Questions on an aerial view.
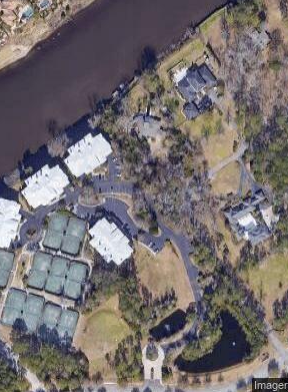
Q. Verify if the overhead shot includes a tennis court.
Yes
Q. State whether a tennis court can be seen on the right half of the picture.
No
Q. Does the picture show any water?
Yes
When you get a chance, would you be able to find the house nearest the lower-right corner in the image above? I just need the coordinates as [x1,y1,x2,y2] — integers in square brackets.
[226,194,276,245]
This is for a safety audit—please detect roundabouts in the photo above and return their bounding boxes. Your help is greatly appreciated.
[142,344,163,384]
